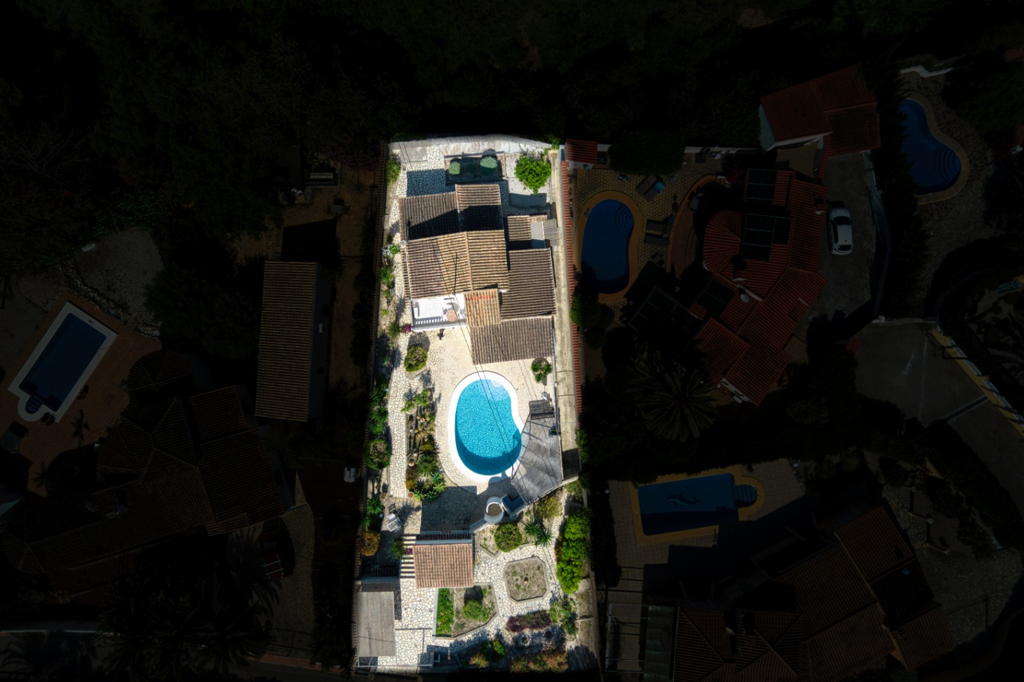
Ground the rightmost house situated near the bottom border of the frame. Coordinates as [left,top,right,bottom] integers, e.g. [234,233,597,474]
[670,501,956,682]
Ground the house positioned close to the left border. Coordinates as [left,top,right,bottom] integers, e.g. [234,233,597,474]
[0,350,296,574]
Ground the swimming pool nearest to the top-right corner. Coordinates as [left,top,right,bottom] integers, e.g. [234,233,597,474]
[883,91,971,204]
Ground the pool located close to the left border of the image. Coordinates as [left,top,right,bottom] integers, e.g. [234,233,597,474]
[7,302,115,423]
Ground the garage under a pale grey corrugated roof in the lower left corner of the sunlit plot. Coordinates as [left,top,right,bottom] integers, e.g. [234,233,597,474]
[357,560,405,657]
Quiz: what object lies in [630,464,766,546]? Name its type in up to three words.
swimming pool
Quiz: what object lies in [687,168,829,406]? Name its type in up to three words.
house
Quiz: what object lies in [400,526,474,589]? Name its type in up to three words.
building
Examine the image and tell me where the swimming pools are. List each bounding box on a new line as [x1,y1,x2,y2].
[883,91,971,204]
[574,190,643,303]
[448,371,529,483]
[7,302,115,423]
[630,464,766,546]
